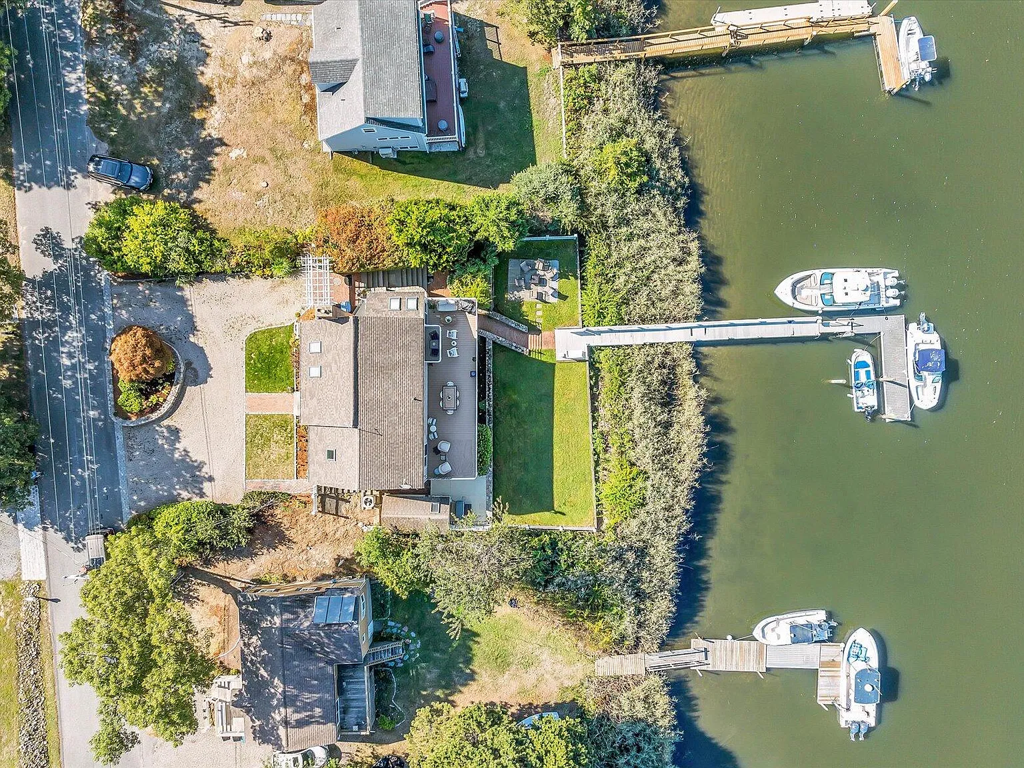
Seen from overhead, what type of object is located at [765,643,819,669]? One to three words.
pier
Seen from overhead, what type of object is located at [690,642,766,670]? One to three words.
pier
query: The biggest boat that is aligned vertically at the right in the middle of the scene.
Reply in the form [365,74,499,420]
[903,309,946,409]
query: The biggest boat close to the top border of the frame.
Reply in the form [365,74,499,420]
[898,17,940,95]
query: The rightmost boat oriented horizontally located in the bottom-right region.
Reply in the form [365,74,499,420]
[753,606,841,643]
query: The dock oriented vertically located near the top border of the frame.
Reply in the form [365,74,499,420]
[870,15,908,95]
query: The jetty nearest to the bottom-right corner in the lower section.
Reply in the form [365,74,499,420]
[816,642,844,706]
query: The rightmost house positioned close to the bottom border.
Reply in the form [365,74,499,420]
[239,580,404,748]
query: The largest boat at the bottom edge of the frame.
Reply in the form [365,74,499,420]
[837,628,886,737]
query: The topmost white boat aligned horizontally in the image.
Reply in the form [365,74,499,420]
[774,268,904,311]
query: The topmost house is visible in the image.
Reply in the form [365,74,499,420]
[305,0,461,157]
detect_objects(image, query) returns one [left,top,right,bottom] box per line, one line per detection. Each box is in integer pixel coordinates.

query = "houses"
[299,282,478,496]
[305,0,461,157]
[239,580,404,748]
